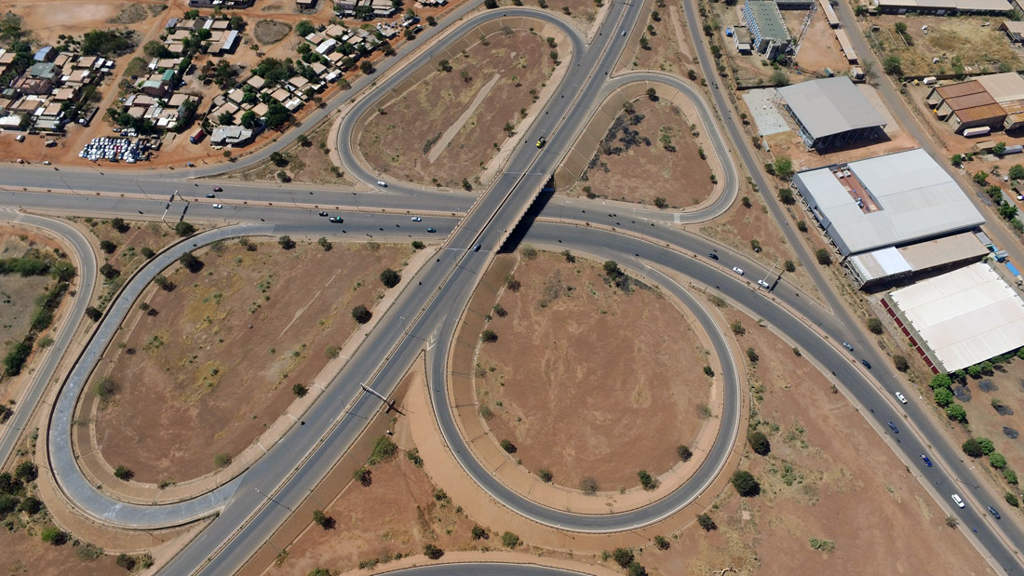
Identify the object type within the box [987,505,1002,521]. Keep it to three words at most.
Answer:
car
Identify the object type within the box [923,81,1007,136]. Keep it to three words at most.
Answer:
building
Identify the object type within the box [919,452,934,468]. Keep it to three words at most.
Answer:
vehicle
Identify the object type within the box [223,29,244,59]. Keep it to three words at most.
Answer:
house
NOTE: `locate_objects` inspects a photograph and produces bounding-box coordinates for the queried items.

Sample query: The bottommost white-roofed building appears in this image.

[876,261,1024,381]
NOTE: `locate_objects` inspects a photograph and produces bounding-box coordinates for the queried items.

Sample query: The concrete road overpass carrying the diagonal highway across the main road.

[429,170,579,264]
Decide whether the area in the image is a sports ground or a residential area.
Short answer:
residential area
